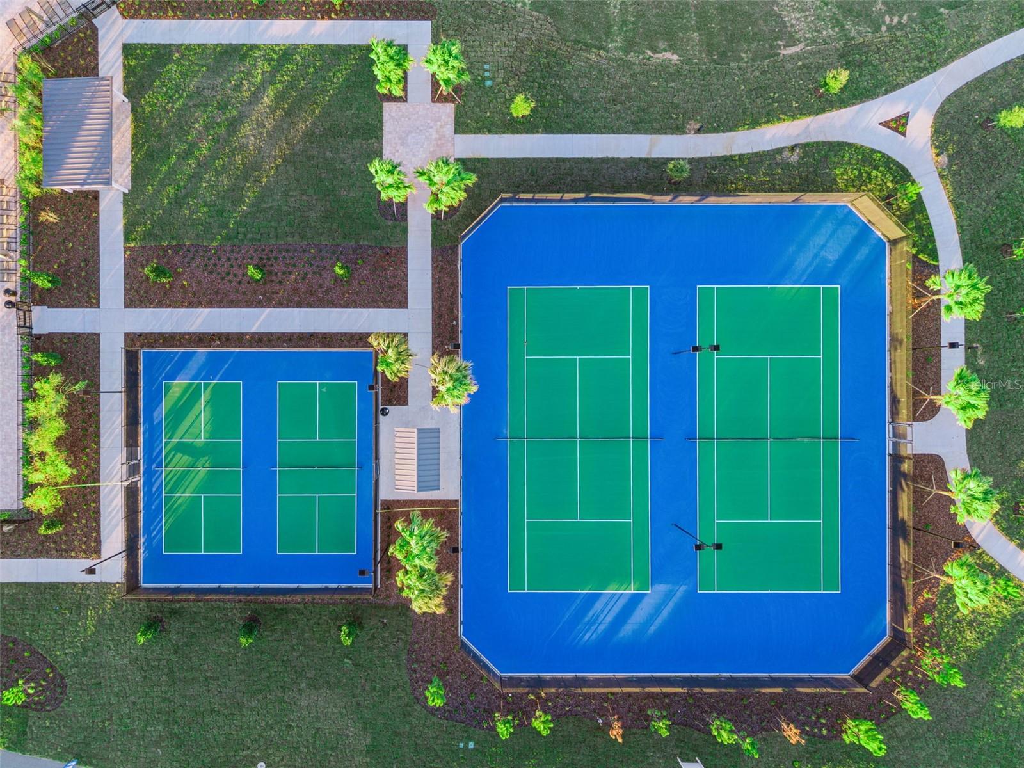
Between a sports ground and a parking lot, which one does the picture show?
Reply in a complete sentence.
It's a sports ground.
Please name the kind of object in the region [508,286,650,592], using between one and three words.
tennis court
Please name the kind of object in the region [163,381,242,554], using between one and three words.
sports court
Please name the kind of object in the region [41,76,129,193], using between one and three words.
building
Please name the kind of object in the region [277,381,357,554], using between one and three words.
sports court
